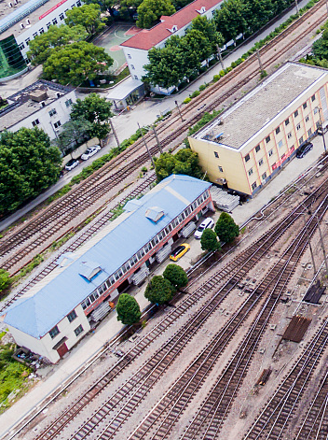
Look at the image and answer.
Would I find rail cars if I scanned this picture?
No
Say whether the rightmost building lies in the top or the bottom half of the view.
top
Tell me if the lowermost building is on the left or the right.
left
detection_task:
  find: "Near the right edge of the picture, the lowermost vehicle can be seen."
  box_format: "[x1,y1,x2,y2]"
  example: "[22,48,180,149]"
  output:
[294,141,313,157]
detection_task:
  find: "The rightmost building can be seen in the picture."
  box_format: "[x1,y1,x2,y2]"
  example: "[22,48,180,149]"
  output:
[190,57,328,194]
